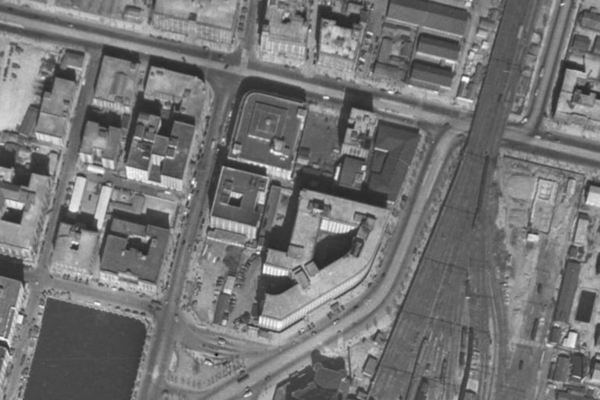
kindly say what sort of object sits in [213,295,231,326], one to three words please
shed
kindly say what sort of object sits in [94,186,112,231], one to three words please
shed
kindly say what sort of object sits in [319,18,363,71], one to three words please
building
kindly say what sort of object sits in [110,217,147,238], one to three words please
house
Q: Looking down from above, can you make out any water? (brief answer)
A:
No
